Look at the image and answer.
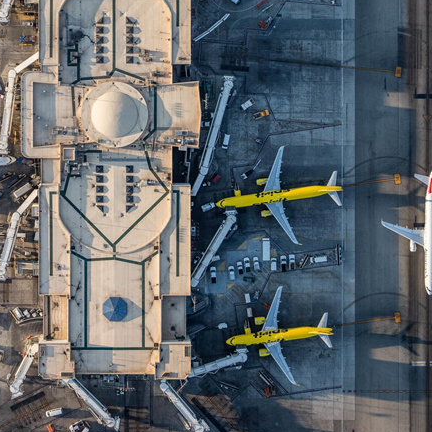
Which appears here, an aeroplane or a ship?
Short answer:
aeroplane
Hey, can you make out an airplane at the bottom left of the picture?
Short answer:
No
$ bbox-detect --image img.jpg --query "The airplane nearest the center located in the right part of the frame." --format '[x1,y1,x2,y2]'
[216,143,344,248]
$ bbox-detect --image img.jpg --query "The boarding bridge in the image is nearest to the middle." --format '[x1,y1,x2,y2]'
[191,205,240,288]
